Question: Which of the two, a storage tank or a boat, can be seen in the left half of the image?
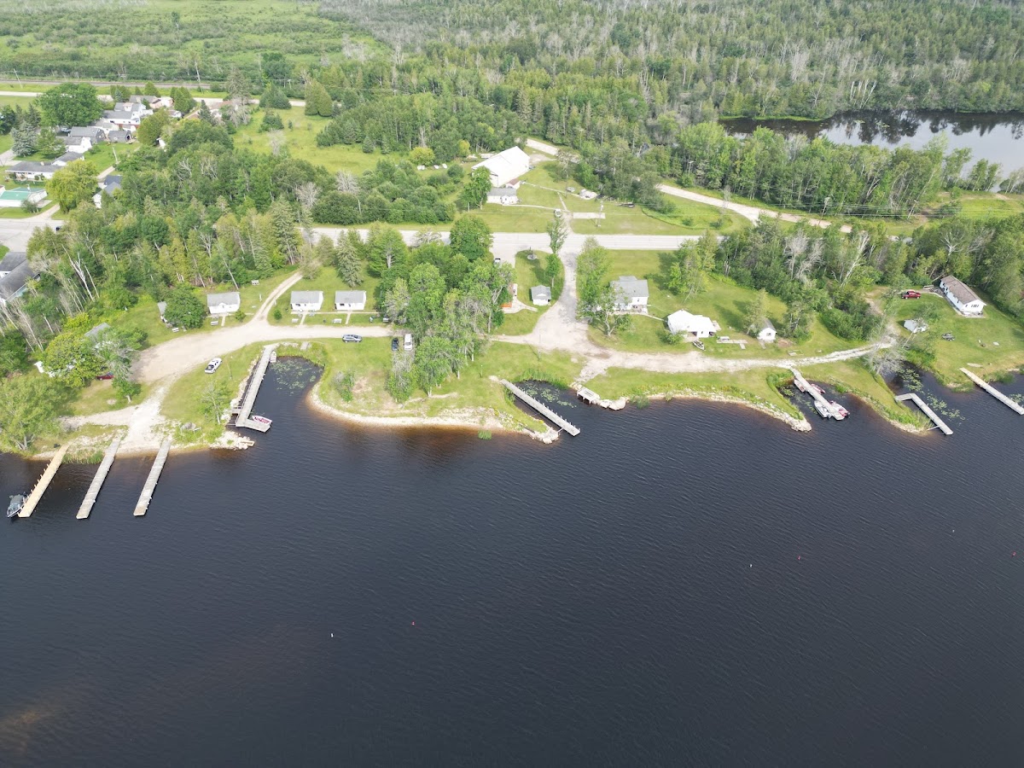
boat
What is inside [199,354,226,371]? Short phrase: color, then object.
white vehicle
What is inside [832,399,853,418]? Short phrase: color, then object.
white boat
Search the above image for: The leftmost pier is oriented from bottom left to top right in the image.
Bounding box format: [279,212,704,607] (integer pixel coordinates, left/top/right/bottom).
[17,452,68,518]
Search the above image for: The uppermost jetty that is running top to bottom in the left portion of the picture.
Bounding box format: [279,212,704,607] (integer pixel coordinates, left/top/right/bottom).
[231,346,273,432]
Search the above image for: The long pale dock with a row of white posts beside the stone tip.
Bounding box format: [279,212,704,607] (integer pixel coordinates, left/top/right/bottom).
[504,378,578,434]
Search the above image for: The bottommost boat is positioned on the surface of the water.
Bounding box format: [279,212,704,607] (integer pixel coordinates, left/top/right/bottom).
[7,492,28,518]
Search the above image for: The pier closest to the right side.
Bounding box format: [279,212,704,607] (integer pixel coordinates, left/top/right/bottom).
[975,380,1024,415]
